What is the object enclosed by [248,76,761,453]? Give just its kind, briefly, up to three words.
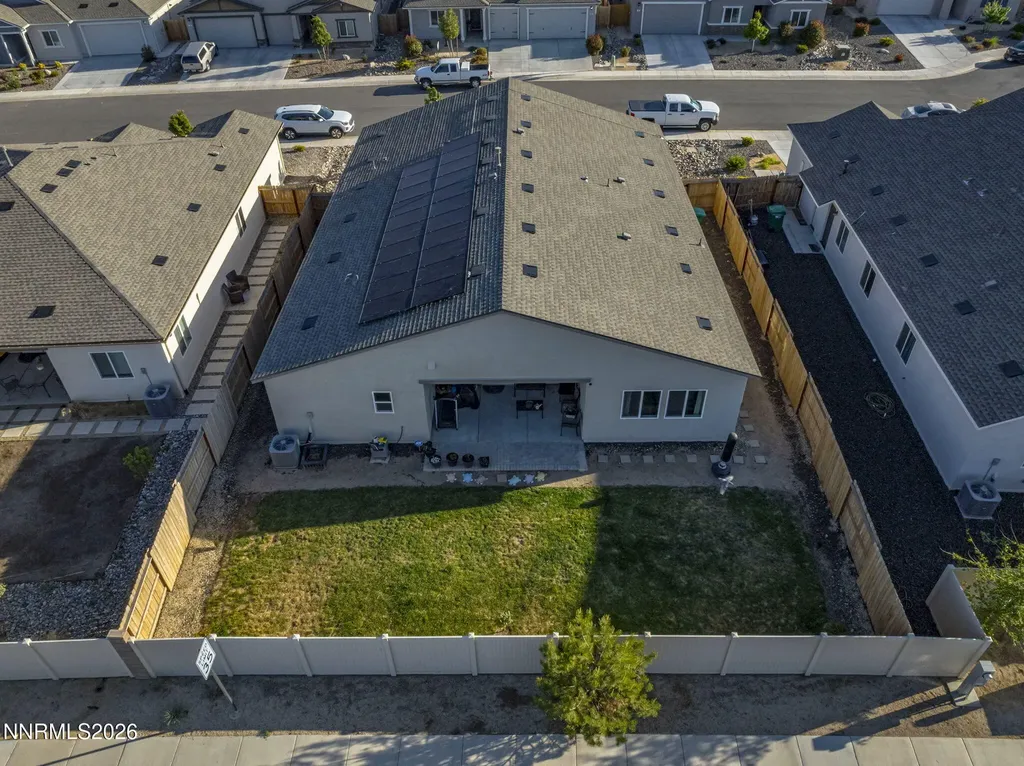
house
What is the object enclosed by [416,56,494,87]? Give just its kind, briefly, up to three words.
truck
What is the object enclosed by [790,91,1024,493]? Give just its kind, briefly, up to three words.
house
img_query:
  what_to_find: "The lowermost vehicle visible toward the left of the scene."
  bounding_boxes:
[274,99,354,138]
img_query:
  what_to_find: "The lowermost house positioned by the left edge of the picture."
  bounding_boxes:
[0,107,288,401]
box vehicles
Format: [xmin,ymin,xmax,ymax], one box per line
[179,37,220,68]
[624,92,721,130]
[893,101,961,120]
[1006,38,1024,59]
[416,56,494,87]
[274,99,354,138]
